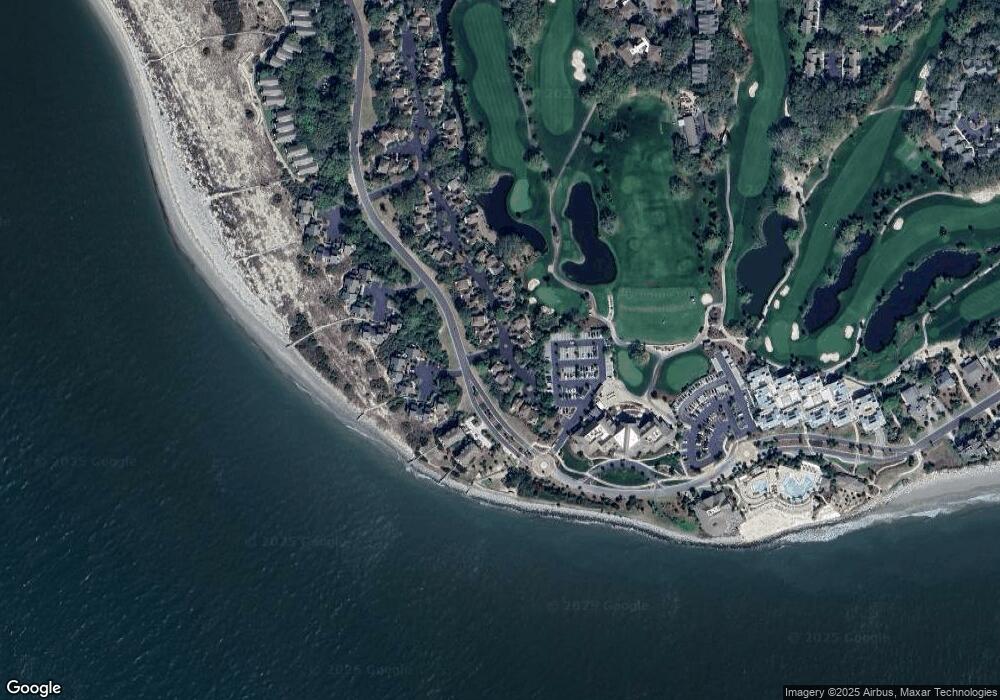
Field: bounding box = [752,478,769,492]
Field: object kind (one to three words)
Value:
swimming pool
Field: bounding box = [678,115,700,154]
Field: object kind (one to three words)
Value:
building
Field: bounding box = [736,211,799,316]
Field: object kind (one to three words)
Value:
pond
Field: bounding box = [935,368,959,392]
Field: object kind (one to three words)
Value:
house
